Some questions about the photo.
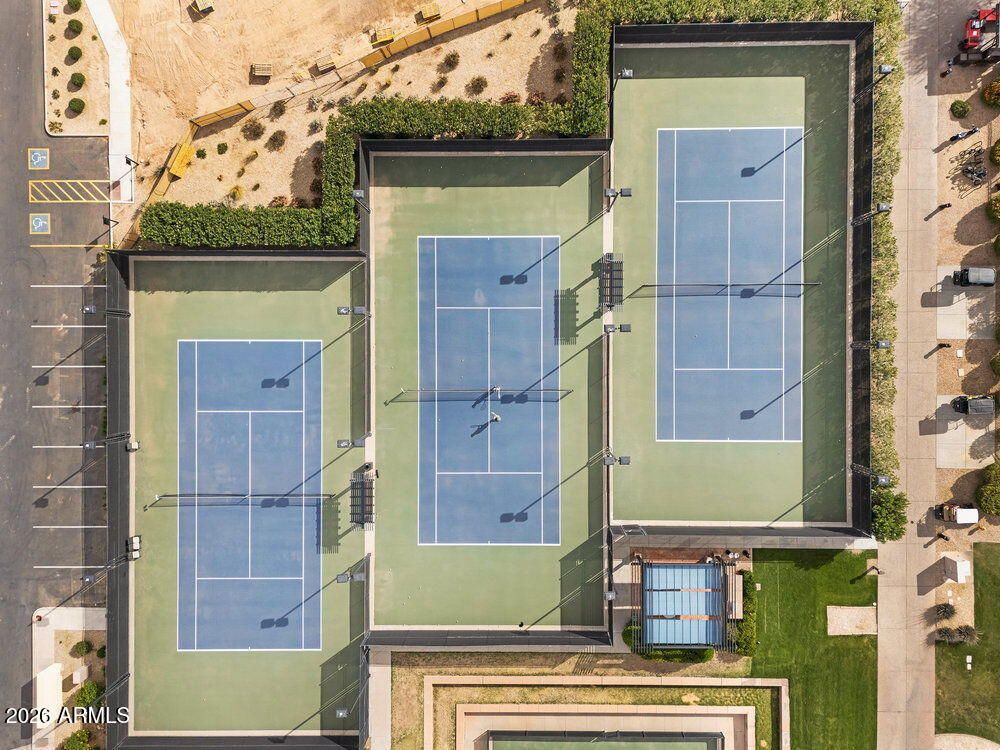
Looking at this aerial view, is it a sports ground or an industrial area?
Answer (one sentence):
It's a sports ground.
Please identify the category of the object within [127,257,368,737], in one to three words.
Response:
tennis court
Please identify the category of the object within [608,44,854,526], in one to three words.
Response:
tennis court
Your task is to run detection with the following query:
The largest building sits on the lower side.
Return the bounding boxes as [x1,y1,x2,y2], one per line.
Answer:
[630,553,738,651]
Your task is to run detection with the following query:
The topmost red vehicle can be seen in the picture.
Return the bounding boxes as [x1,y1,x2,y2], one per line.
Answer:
[953,8,1000,52]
